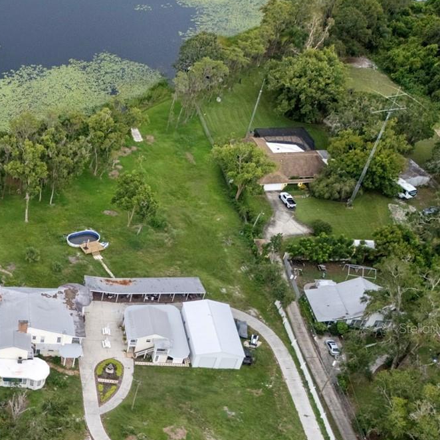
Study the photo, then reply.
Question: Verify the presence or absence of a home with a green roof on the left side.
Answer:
No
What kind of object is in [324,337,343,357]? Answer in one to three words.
car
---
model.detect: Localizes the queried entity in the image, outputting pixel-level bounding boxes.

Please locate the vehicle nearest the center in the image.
[279,191,299,207]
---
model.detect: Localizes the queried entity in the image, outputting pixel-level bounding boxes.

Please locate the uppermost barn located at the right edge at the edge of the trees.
[395,163,432,187]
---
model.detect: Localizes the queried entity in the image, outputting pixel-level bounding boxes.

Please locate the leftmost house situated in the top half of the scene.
[251,116,329,193]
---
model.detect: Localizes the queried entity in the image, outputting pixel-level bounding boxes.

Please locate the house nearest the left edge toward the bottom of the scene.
[0,283,93,391]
